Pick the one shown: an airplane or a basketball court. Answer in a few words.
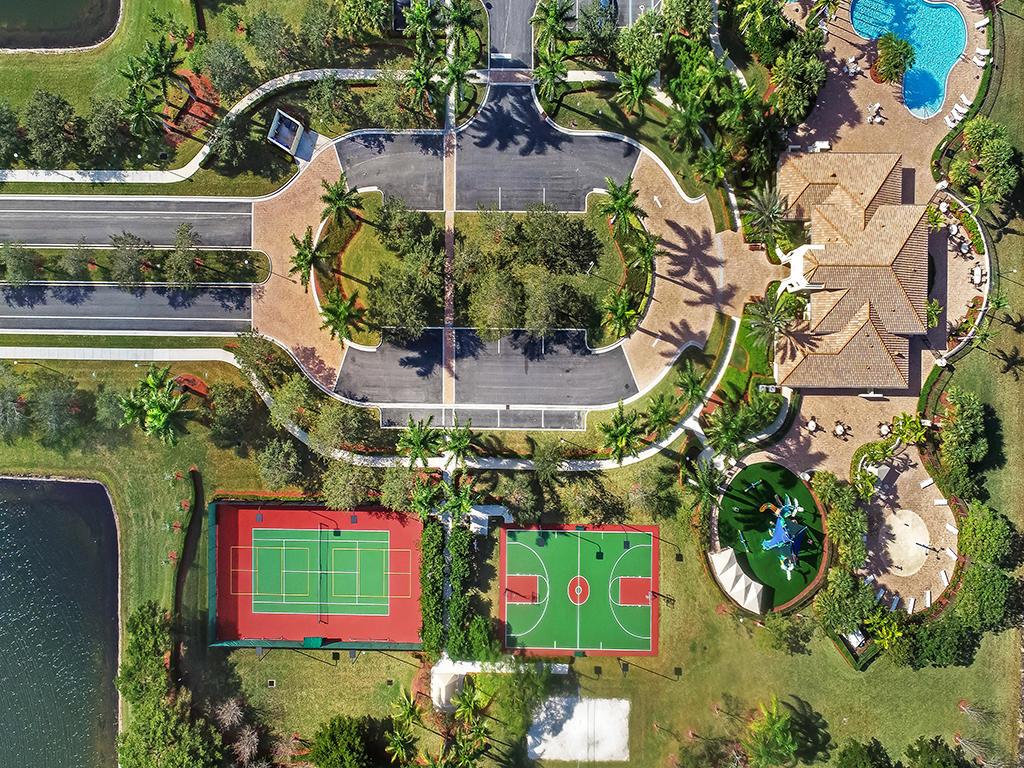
basketball court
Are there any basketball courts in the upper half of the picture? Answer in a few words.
No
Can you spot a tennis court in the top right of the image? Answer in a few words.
No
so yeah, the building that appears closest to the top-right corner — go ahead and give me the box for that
[768,152,928,388]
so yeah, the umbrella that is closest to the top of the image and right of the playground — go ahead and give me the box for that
[875,461,891,482]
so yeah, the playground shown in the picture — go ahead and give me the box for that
[717,460,831,618]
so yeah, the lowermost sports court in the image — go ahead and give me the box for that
[529,699,630,761]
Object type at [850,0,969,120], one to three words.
swimming pool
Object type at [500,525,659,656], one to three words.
basketball court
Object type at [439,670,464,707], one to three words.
building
